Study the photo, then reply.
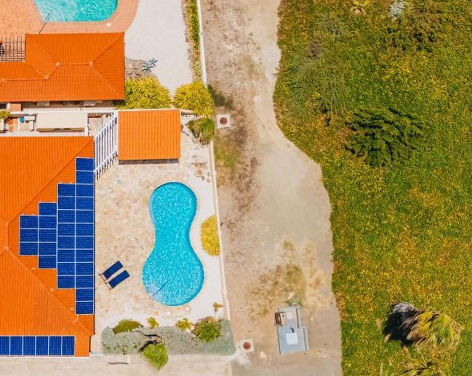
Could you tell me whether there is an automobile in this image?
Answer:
No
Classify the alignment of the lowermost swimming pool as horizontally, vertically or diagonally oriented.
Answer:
vertically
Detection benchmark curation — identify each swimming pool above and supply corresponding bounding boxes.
[29,0,122,28]
[143,182,208,306]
